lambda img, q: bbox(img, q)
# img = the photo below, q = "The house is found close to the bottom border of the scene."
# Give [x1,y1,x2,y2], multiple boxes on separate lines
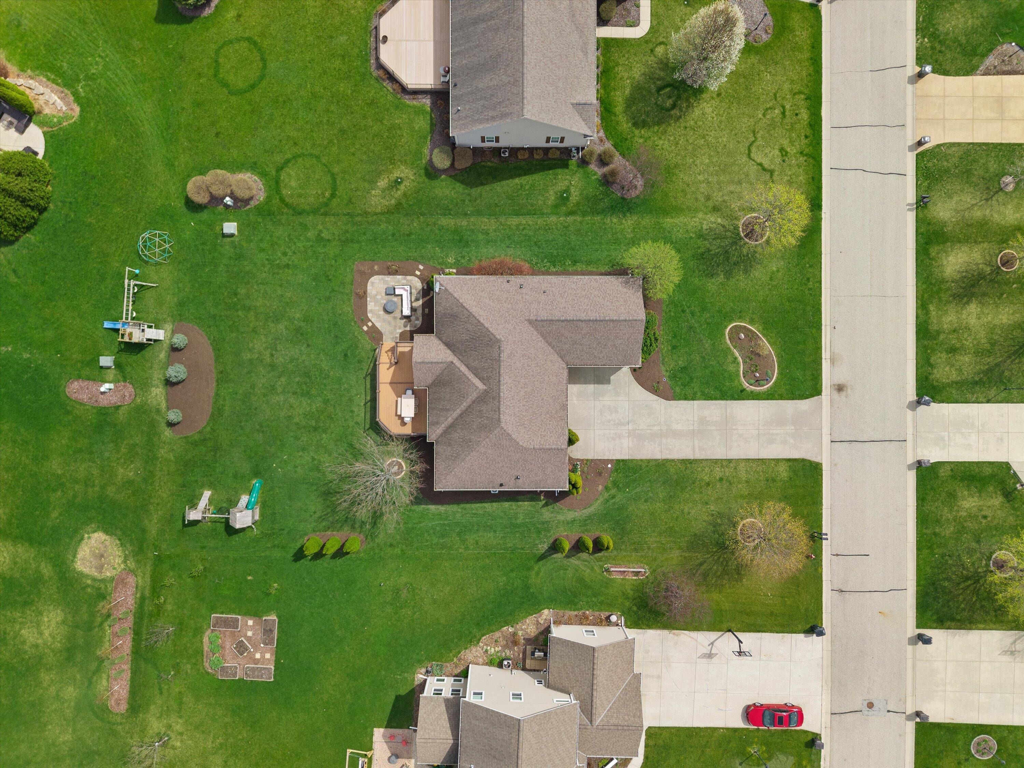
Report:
[409,610,647,768]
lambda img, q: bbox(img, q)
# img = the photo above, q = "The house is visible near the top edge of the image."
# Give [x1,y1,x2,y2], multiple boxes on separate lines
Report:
[448,0,601,158]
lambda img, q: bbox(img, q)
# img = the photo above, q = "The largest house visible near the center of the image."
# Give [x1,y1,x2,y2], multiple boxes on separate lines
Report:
[411,273,649,497]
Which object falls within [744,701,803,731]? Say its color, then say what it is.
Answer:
red car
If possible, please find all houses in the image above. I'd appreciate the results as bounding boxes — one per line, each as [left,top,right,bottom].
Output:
[409,610,647,768]
[411,273,649,497]
[448,0,601,158]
